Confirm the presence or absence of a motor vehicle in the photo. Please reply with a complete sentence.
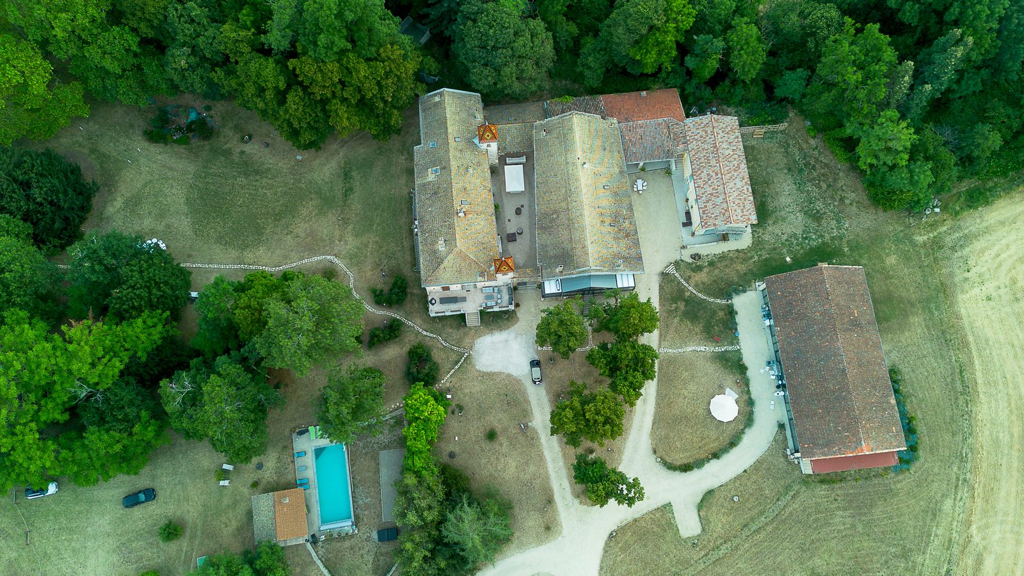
Yes, there's a motor vehicle down there.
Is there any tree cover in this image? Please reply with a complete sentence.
Yes, tree cover can be seen from above here.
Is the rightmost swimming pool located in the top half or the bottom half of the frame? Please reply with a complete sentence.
The rightmost swimming pool sits in the bottom half of the picture.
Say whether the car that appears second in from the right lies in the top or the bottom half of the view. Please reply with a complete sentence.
It is in the bottom half that the car that appears second in from the right appears.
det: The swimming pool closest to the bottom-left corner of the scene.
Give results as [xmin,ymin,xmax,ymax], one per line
[310,440,357,535]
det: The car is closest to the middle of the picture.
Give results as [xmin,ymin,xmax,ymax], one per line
[528,357,544,386]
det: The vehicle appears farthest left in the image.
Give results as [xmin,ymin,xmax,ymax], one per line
[20,482,57,500]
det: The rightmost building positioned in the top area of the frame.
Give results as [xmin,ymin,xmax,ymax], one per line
[684,114,758,243]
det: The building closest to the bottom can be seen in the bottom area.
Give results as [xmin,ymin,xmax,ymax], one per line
[250,487,313,545]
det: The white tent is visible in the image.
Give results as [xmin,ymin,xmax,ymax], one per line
[703,384,741,428]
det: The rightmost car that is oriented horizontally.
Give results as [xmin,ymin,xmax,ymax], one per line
[118,488,156,508]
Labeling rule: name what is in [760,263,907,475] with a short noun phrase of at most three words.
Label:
barn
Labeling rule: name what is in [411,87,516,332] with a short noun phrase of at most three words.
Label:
house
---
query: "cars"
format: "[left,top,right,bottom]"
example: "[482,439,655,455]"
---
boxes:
[118,488,156,508]
[20,482,57,500]
[528,357,544,386]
